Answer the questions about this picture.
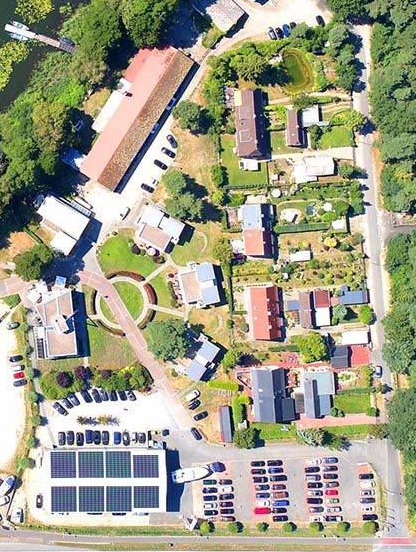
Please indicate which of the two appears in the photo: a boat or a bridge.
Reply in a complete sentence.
Looking from above, you can make out a boat.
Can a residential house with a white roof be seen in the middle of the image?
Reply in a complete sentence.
Yes, a residential house with a white roof shows up in the middle of the image.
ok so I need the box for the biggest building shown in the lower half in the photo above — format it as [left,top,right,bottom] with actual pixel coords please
[46,442,167,513]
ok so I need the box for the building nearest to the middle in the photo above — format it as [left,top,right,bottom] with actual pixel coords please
[180,261,220,305]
